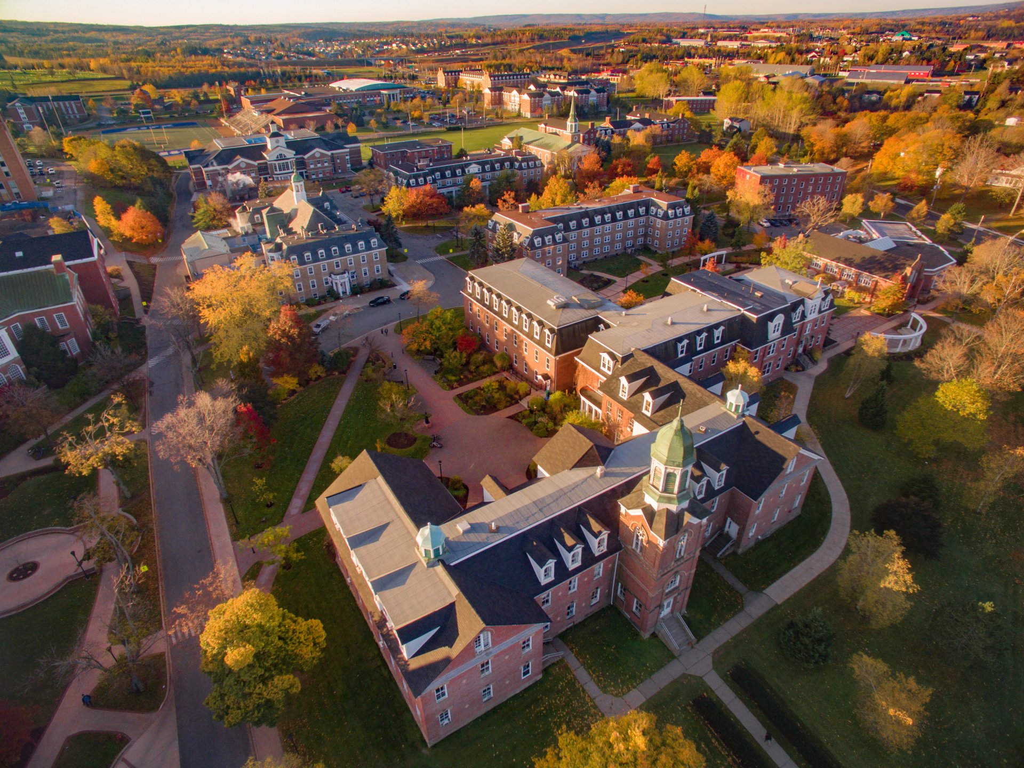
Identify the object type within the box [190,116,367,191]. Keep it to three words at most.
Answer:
building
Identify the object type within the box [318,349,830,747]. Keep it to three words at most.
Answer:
building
